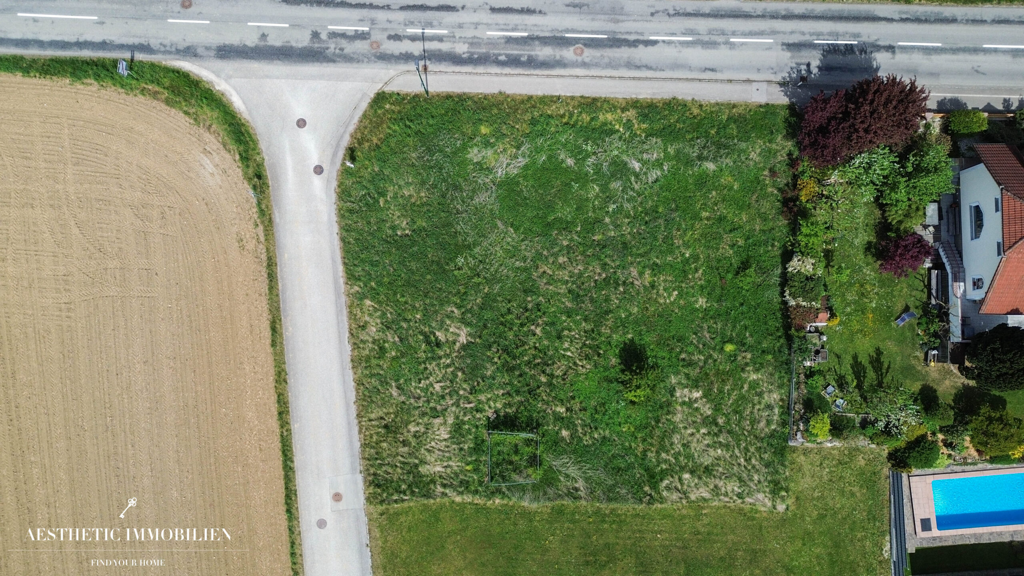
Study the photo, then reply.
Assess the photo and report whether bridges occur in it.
No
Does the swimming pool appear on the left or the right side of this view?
right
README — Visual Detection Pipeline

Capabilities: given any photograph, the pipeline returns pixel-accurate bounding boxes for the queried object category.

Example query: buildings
[808,296,830,325]
[957,139,1024,316]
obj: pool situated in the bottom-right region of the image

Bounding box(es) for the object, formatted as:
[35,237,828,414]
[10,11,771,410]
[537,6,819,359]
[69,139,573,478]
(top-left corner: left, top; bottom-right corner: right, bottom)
[908,463,1024,541]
